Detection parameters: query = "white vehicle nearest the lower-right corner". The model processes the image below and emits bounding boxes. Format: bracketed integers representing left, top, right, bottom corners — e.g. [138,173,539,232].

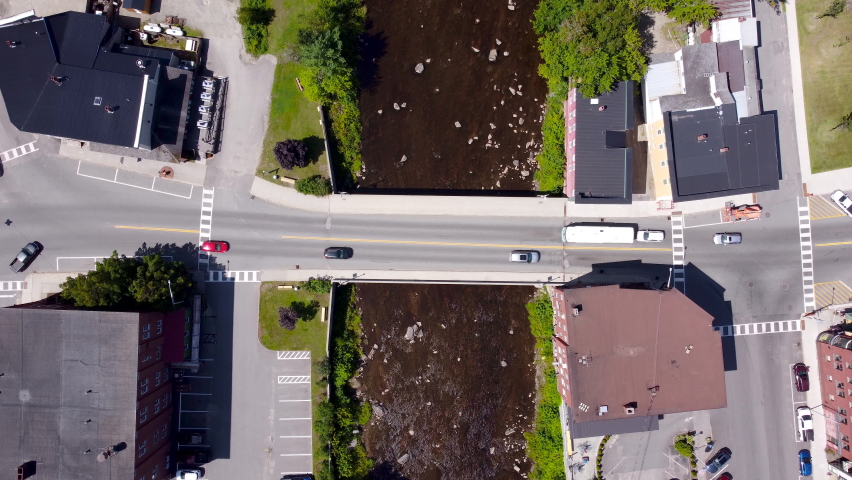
[796,406,815,443]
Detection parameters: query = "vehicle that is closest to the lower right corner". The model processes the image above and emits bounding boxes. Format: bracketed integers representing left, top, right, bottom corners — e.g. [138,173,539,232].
[797,448,813,475]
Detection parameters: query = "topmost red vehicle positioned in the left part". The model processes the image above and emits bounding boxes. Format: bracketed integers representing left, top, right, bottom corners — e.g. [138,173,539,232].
[201,240,230,253]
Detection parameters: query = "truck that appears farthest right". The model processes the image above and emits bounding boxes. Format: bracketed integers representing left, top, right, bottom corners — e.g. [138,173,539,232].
[830,189,852,221]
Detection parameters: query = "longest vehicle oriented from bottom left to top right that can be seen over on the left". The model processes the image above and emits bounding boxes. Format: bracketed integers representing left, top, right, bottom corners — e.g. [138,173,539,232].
[8,242,43,273]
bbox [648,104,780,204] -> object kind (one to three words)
building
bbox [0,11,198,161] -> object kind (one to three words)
building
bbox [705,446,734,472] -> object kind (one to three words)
car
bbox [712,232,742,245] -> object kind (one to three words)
vehicle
